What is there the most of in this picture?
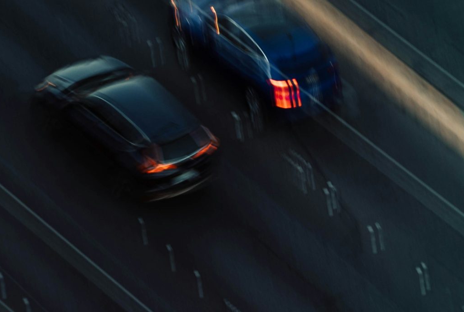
paved ground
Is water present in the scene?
No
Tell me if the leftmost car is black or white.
black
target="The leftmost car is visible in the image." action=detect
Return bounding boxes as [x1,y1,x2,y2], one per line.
[41,54,213,189]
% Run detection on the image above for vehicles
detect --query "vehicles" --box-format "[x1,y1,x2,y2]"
[41,54,213,189]
[172,0,341,119]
